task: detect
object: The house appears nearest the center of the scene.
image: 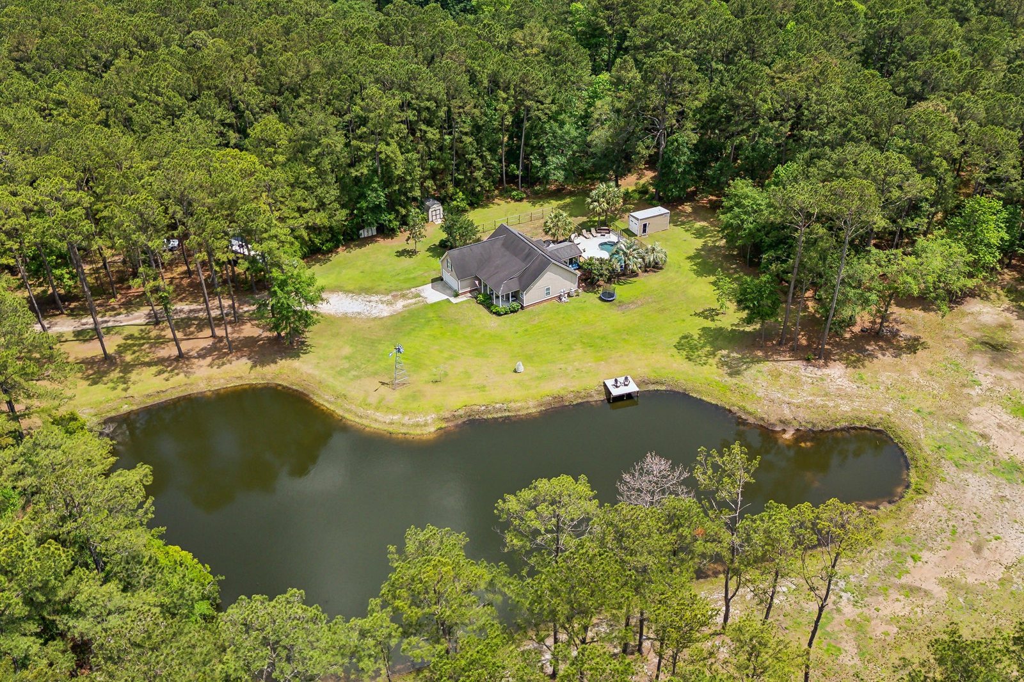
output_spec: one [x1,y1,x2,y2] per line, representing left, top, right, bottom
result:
[438,225,585,309]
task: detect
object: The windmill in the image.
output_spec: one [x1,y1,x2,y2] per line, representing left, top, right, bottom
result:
[386,344,407,388]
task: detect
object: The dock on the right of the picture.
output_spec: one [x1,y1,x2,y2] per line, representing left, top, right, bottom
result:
[603,376,640,401]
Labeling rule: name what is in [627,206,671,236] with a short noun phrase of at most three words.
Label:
shed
